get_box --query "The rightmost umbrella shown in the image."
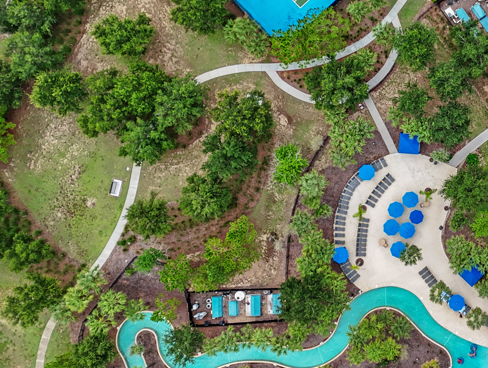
[448,293,465,311]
